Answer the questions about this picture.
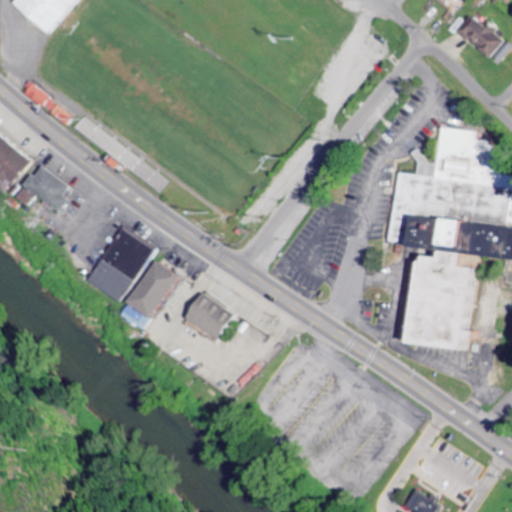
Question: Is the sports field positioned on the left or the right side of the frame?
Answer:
left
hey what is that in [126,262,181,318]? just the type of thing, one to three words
building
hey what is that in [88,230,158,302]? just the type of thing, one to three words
building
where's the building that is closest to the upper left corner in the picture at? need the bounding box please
[11,0,84,36]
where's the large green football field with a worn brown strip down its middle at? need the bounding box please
[42,0,310,216]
